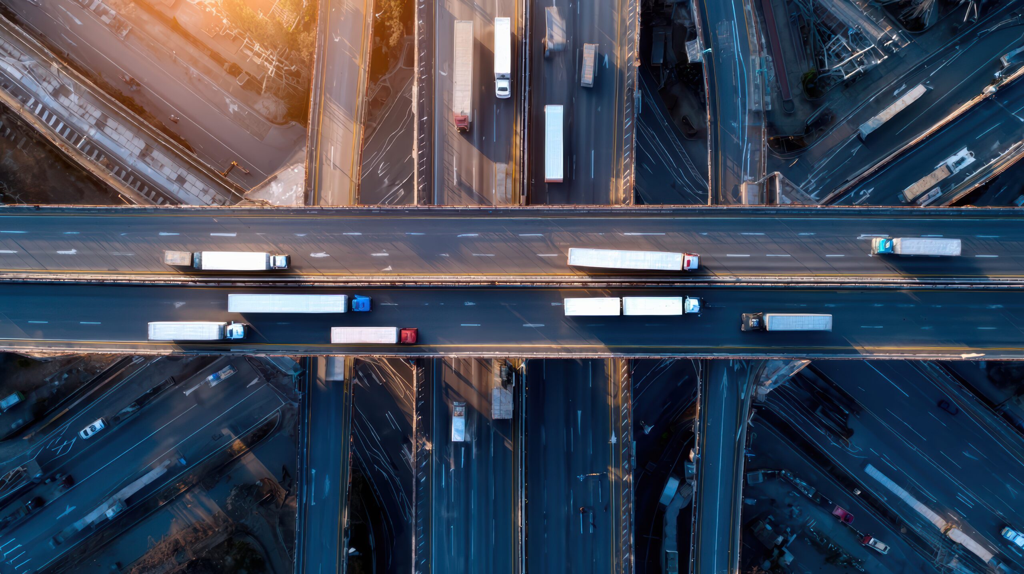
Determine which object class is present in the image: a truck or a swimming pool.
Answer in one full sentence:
It is a truck that can be seen here.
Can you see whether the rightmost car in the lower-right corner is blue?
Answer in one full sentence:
Yes, the rightmost car in the lower-right corner is blue.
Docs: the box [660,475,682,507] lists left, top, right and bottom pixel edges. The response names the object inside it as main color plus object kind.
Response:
blue truck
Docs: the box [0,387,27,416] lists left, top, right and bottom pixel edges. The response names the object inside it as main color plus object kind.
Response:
blue truck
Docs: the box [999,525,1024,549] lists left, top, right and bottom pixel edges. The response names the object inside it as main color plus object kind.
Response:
blue car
